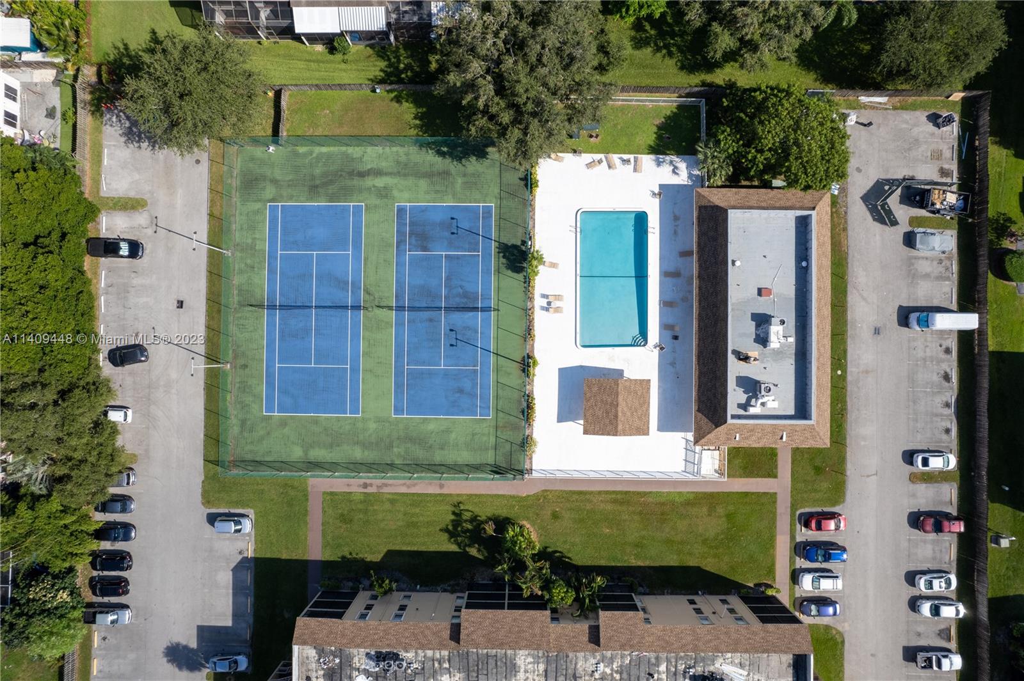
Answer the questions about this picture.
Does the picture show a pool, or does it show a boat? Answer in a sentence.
The image shows a pool.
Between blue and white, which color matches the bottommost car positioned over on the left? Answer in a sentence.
The bottommost car positioned over on the left looks blue in the image.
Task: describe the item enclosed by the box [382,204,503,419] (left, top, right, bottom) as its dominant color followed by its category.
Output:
blue tennis court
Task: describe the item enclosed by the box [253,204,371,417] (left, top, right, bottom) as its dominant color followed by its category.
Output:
blue tennis court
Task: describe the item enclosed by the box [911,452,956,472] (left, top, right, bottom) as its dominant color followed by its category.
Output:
white car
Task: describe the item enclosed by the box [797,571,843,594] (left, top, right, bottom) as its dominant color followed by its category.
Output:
white car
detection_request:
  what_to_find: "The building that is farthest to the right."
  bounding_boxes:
[691,188,831,447]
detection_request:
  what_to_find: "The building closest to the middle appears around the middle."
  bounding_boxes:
[583,379,650,436]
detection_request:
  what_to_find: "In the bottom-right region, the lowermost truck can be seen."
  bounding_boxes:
[914,651,962,674]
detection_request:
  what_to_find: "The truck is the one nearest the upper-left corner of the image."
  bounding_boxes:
[88,237,145,258]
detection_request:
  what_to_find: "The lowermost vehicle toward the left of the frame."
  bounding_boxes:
[208,653,250,675]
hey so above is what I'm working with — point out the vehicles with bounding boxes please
[213,515,253,536]
[82,605,135,628]
[912,572,956,594]
[90,552,135,573]
[802,544,848,565]
[208,653,250,675]
[911,452,956,472]
[914,598,963,621]
[96,523,138,544]
[915,515,966,536]
[797,571,843,594]
[95,496,137,516]
[88,577,132,599]
[88,237,145,258]
[108,468,140,486]
[100,406,137,425]
[904,311,977,333]
[914,651,962,674]
[798,598,840,620]
[107,345,151,366]
[805,514,846,534]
